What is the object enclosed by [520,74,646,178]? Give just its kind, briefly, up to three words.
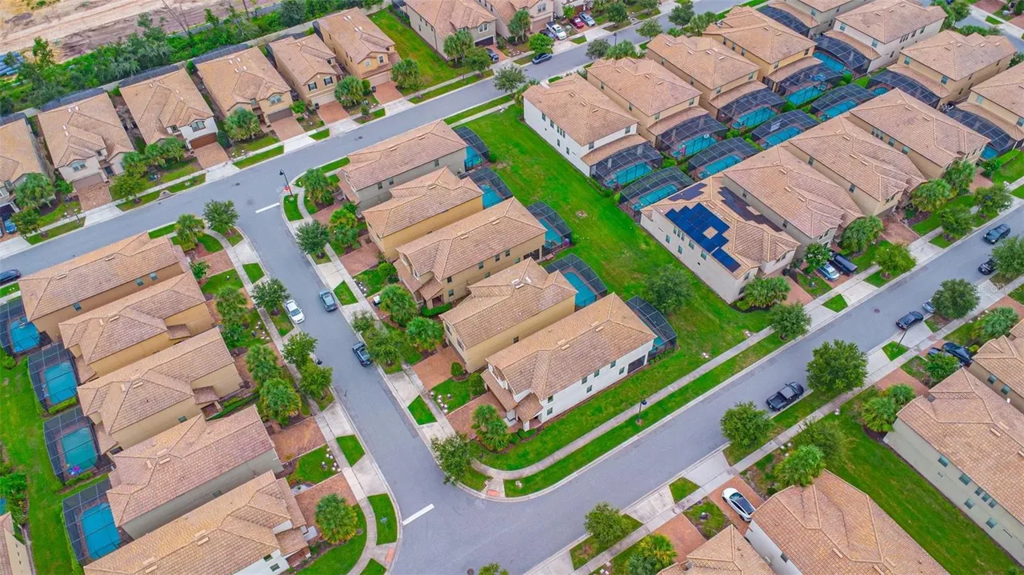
house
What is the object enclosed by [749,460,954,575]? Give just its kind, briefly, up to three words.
house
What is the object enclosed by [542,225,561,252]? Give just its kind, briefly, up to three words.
swimming pool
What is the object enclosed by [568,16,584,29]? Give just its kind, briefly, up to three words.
vehicle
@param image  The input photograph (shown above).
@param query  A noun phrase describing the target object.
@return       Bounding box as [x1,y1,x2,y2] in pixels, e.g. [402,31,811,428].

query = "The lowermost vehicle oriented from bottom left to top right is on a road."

[761,380,805,414]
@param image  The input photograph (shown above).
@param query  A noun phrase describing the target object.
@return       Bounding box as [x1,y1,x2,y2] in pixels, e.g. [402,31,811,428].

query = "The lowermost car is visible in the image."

[719,483,759,524]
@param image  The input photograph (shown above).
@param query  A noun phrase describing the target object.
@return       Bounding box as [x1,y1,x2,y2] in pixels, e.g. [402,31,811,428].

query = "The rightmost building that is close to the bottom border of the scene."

[885,366,1024,559]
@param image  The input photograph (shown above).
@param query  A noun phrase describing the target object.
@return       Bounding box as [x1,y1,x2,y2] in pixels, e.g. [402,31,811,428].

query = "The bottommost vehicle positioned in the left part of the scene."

[351,343,375,370]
